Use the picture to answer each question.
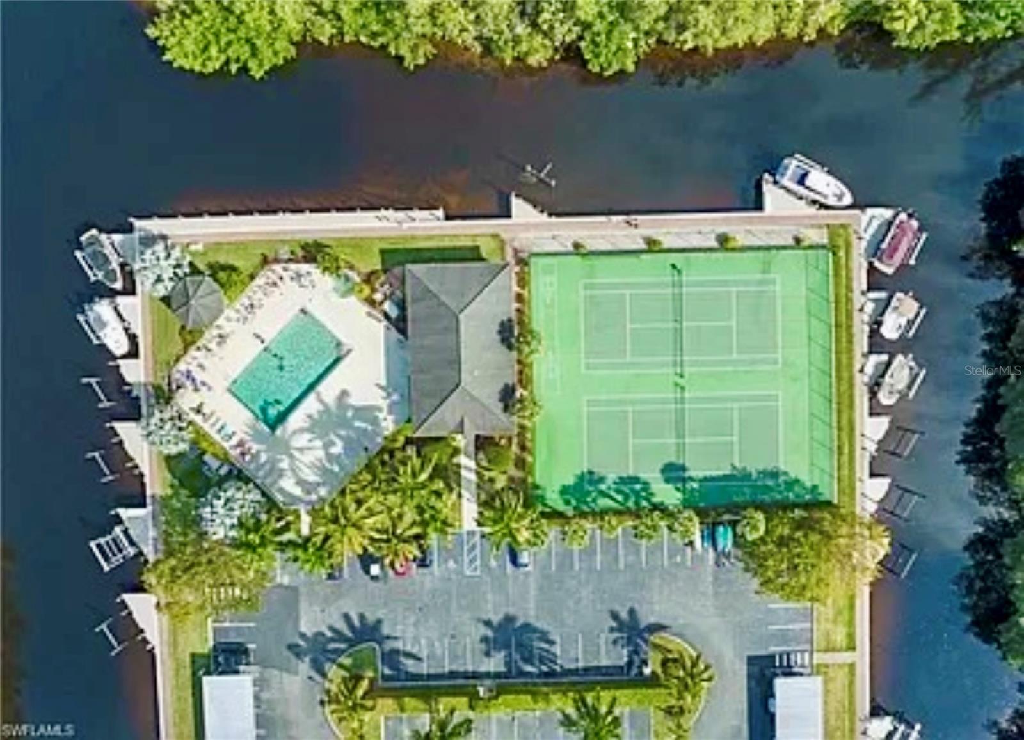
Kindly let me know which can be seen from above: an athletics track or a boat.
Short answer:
boat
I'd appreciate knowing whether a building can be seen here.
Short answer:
Yes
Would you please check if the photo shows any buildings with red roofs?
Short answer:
No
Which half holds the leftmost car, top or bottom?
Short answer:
bottom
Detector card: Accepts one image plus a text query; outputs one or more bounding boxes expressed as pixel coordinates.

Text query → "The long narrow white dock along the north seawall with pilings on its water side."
[128,205,444,234]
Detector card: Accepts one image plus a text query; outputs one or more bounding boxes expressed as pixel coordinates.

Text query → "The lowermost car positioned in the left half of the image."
[212,650,253,672]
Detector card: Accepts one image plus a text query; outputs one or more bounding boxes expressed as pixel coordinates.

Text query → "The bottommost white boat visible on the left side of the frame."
[86,293,128,356]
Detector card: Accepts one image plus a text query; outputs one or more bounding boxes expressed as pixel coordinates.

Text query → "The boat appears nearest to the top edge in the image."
[771,160,854,205]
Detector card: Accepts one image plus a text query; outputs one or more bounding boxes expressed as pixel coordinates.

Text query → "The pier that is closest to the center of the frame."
[511,189,551,220]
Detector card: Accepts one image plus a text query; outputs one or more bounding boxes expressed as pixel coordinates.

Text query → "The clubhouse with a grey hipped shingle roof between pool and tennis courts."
[404,261,516,455]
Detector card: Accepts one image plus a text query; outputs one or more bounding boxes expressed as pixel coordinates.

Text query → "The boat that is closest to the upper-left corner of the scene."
[81,227,123,288]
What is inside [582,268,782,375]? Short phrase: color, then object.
green tennis court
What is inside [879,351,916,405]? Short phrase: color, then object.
white boat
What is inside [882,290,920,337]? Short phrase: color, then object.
white boat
